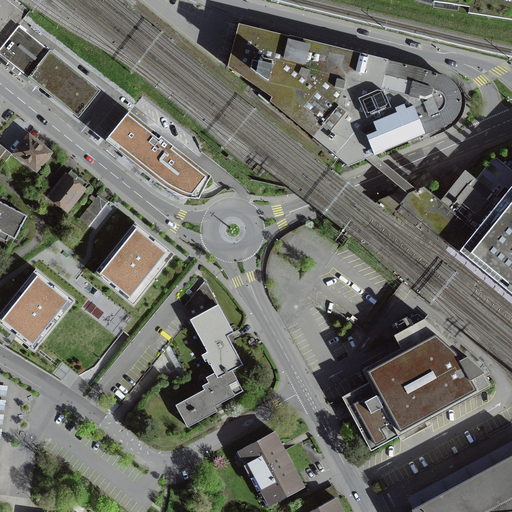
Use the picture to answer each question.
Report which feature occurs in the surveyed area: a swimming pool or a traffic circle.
traffic circle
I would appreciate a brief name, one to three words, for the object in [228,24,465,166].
building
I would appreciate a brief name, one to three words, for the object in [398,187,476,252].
building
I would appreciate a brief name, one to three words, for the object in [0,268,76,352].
house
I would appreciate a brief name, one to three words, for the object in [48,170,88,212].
house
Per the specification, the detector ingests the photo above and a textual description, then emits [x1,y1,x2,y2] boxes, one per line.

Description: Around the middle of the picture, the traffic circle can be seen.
[201,198,265,262]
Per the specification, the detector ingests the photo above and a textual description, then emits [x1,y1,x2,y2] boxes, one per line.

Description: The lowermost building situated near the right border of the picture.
[407,439,512,512]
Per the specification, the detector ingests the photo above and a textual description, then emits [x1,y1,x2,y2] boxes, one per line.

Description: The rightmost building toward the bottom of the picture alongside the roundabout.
[176,280,242,427]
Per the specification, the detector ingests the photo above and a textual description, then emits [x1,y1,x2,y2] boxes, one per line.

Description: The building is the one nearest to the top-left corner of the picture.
[0,25,47,76]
